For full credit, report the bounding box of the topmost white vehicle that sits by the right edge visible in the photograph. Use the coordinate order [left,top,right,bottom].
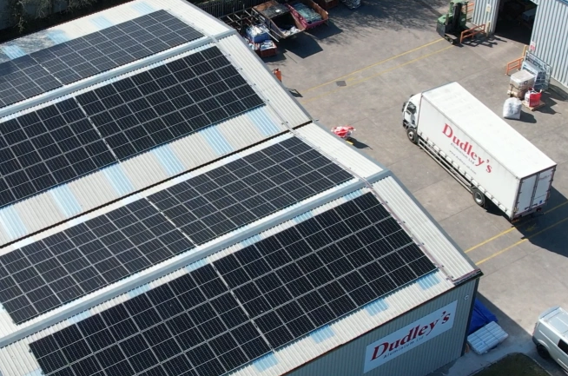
[396,81,558,221]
